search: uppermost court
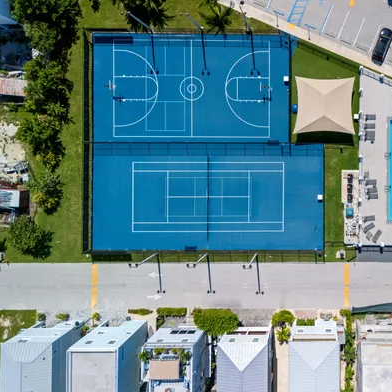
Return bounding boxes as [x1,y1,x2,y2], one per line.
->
[93,29,299,143]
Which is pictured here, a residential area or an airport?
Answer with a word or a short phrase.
residential area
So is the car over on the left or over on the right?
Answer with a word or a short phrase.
right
